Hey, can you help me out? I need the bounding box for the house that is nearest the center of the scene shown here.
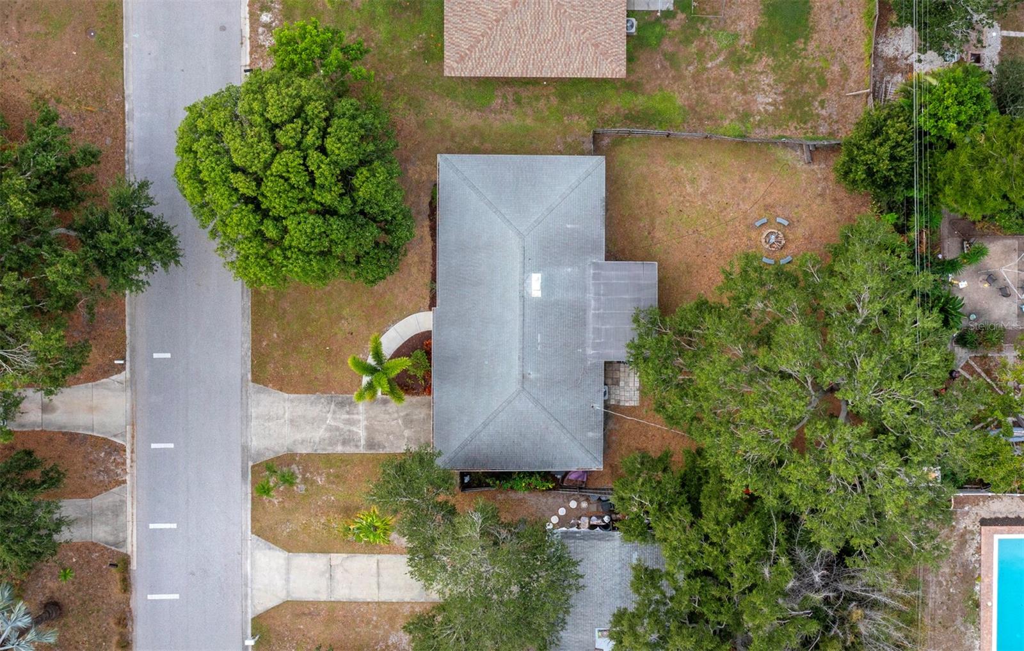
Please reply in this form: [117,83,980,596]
[431,153,658,472]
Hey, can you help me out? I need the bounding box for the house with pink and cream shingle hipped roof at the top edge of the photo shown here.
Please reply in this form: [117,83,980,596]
[443,0,628,79]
